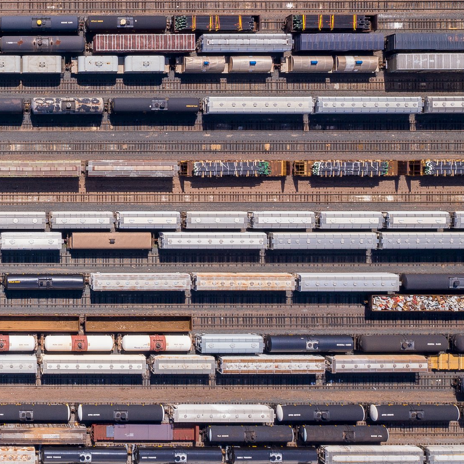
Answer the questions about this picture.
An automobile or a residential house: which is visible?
automobile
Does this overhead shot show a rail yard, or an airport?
rail yard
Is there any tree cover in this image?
No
